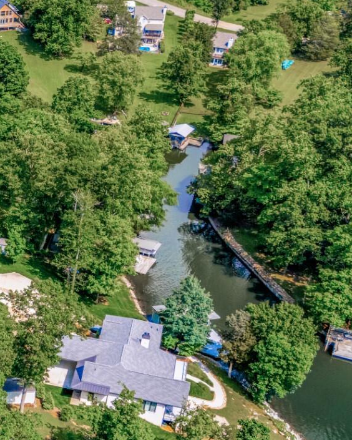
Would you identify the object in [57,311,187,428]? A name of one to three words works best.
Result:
house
